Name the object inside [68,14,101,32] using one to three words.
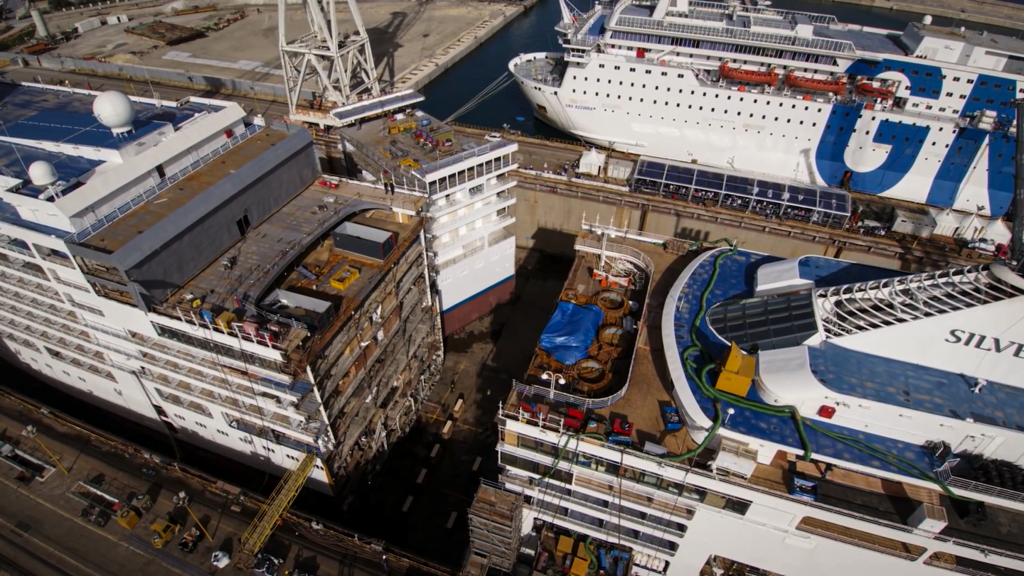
shed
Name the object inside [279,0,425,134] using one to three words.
crane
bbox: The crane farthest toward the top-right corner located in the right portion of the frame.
[997,92,1024,278]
